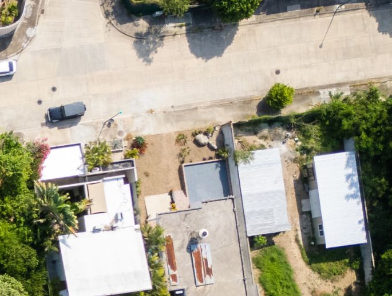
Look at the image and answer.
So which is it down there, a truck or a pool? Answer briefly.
pool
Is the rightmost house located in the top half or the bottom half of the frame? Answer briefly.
bottom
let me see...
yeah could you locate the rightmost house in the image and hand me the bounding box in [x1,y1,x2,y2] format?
[299,151,365,248]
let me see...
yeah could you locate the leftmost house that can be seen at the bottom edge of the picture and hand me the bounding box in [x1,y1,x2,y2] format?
[54,179,152,296]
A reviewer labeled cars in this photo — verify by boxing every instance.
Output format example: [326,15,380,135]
[47,101,88,124]
[0,60,17,77]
